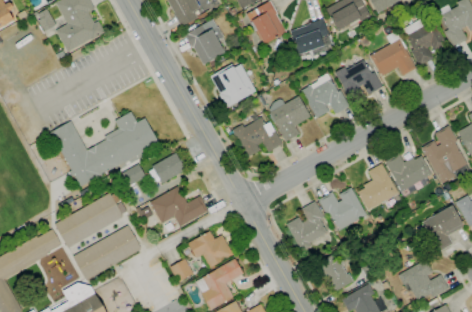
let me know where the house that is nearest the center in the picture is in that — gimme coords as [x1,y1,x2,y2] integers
[234,116,282,160]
